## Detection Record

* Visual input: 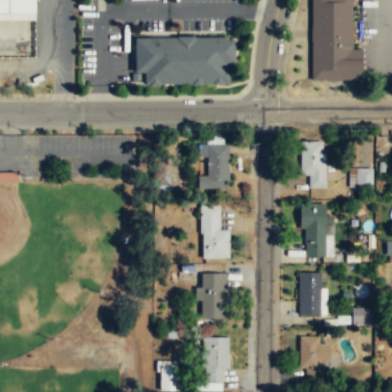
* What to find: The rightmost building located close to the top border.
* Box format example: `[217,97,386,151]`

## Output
[314,0,366,80]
